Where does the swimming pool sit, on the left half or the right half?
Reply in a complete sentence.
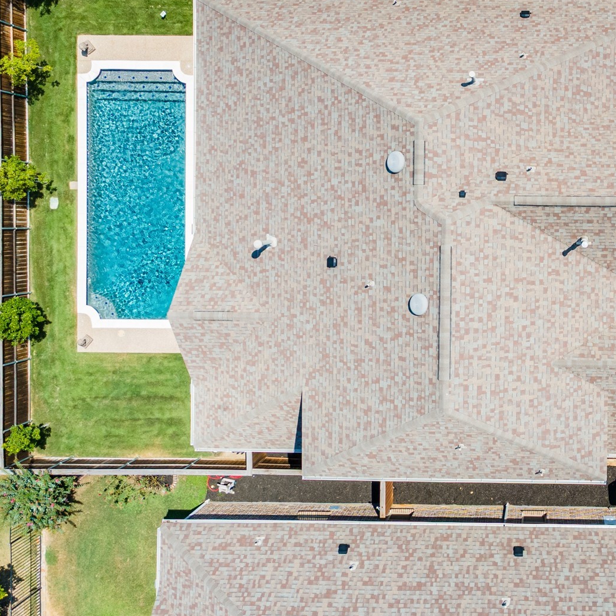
The swimming pool is on the left side of the image.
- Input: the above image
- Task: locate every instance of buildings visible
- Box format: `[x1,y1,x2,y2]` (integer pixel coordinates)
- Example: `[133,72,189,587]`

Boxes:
[166,0,616,487]
[148,496,616,616]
